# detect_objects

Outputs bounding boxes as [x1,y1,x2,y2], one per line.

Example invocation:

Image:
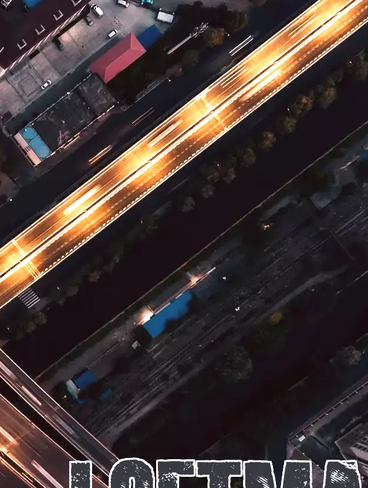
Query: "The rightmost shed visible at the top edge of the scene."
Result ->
[138,24,164,50]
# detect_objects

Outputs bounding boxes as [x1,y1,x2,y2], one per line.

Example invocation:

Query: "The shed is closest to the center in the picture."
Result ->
[141,290,196,338]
